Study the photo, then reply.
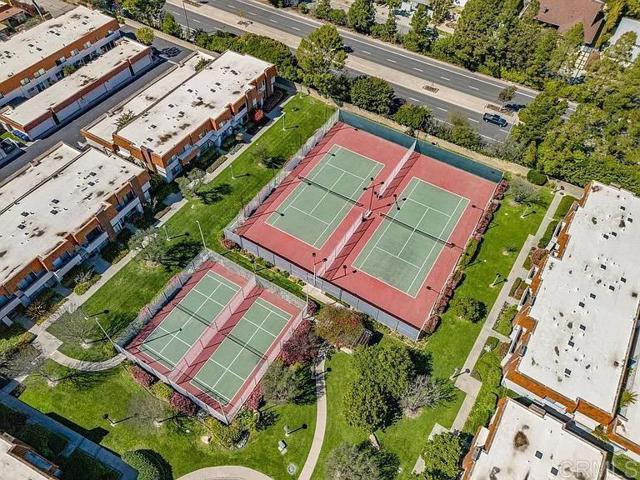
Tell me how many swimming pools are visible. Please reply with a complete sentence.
There are no swimming pools in this view.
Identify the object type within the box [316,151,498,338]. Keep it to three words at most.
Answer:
tennis court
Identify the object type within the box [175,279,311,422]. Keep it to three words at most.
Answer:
tennis court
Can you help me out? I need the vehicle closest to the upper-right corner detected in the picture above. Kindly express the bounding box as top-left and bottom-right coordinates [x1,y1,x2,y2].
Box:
[481,111,509,128]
